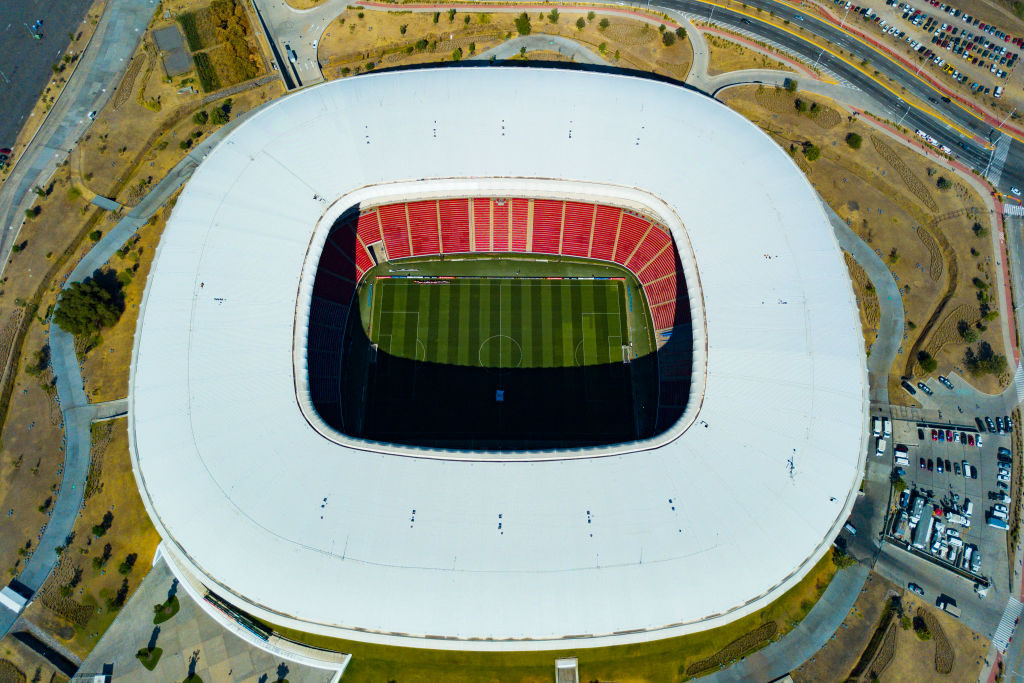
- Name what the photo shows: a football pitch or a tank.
football pitch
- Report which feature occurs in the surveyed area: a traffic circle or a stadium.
stadium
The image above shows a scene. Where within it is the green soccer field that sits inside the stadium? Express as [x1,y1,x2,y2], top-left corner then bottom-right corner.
[359,275,639,444]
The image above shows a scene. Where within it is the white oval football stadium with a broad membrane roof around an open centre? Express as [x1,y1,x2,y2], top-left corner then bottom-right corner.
[126,65,871,651]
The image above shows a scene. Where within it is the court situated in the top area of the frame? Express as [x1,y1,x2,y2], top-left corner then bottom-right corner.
[153,26,194,76]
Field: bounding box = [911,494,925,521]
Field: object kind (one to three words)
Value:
vehicle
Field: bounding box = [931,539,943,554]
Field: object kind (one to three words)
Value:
vehicle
